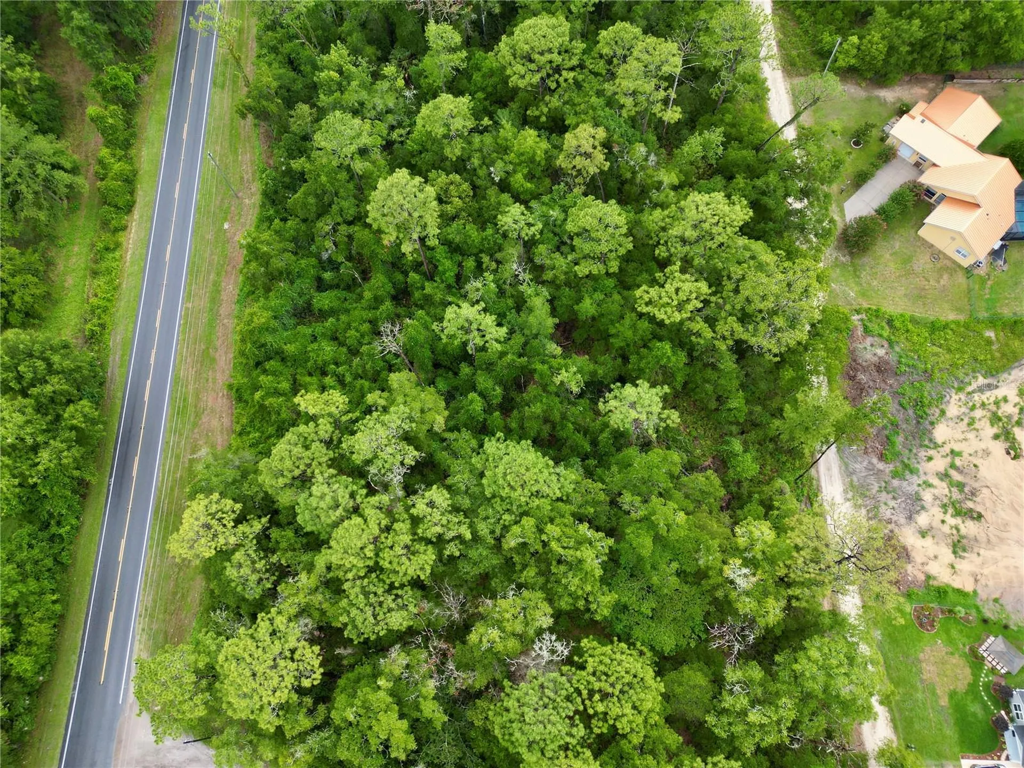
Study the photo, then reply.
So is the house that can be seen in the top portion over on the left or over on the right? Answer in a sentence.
The house that can be seen in the top portion sits on the right side.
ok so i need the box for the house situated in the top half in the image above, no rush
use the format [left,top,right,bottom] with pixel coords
[886,87,1024,267]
